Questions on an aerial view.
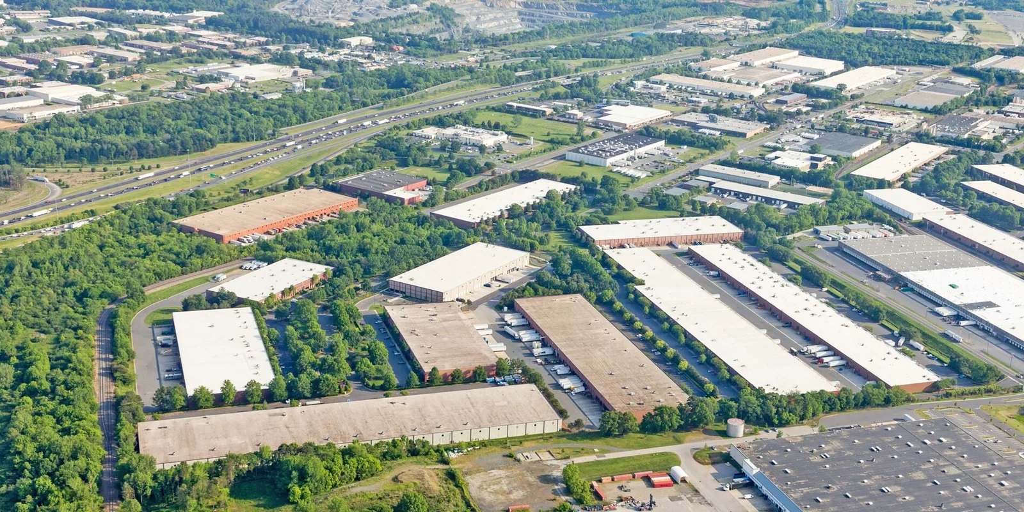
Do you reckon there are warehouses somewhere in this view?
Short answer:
Yes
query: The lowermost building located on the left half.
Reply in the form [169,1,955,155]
[137,384,561,474]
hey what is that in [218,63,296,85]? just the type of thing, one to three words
building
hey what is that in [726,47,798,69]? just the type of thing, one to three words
building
